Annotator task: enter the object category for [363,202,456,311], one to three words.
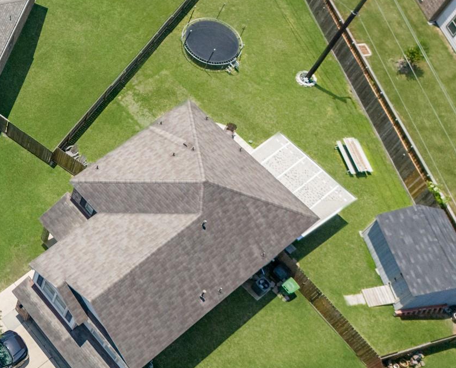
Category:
shed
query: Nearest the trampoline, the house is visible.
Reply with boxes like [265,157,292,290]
[12,100,321,368]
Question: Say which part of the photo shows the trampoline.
top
